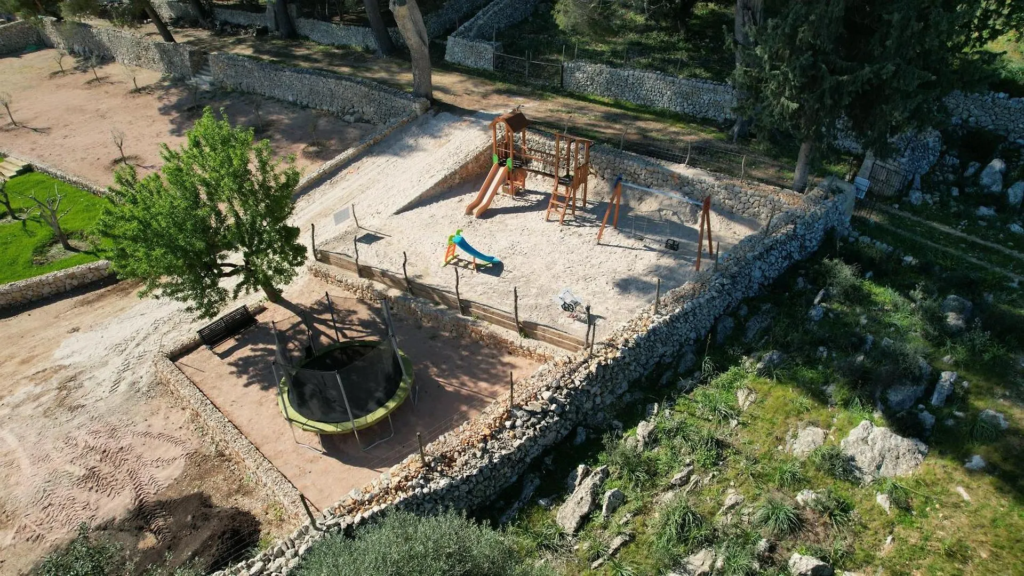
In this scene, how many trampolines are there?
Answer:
one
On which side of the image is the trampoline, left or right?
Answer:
left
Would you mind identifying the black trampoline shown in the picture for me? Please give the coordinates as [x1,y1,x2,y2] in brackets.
[270,290,417,456]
